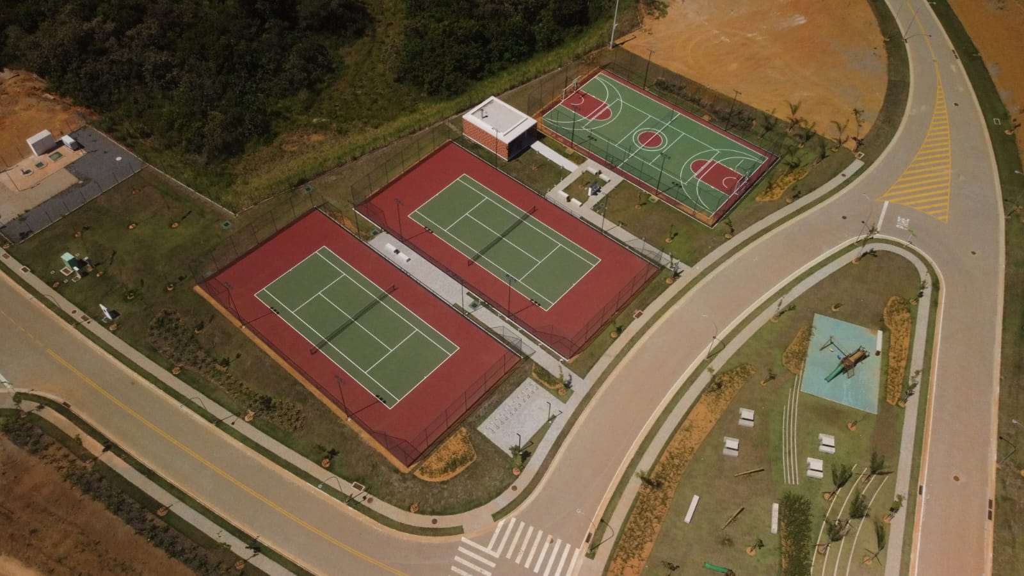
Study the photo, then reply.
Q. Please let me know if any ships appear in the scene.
No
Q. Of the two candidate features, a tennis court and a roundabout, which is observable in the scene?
tennis court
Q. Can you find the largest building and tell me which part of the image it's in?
top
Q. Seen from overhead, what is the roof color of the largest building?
white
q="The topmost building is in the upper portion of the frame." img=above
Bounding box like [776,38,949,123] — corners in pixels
[462,95,539,161]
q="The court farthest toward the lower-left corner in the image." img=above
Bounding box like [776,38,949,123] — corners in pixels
[196,205,525,468]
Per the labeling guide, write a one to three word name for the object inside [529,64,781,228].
sports court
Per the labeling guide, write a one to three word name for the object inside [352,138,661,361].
tennis court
